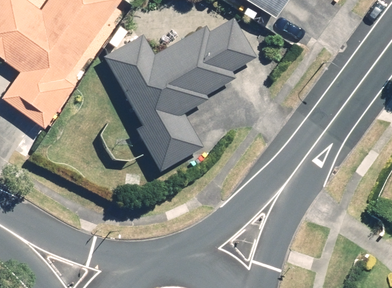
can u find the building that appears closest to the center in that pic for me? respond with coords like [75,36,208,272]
[103,18,258,172]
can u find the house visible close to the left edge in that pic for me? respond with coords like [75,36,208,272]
[0,0,122,130]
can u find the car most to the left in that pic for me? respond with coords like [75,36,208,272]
[272,18,306,43]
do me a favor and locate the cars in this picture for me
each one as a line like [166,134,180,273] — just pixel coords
[272,18,306,43]
[363,0,391,25]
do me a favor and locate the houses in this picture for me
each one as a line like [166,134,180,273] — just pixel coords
[103,18,258,172]
[247,0,288,18]
[0,0,122,130]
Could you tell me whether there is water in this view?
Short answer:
No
